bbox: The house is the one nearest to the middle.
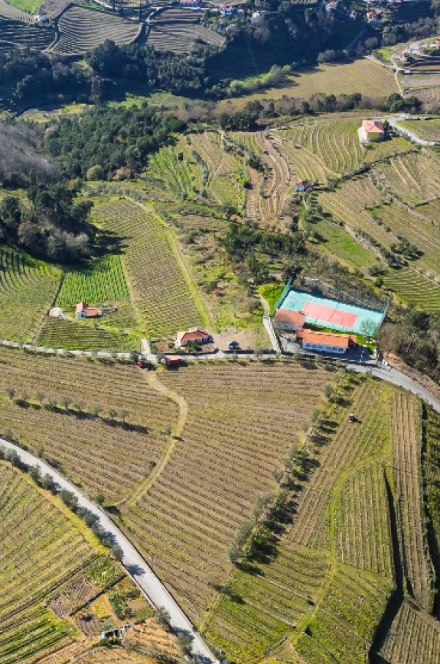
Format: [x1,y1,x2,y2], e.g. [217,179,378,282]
[176,330,214,351]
